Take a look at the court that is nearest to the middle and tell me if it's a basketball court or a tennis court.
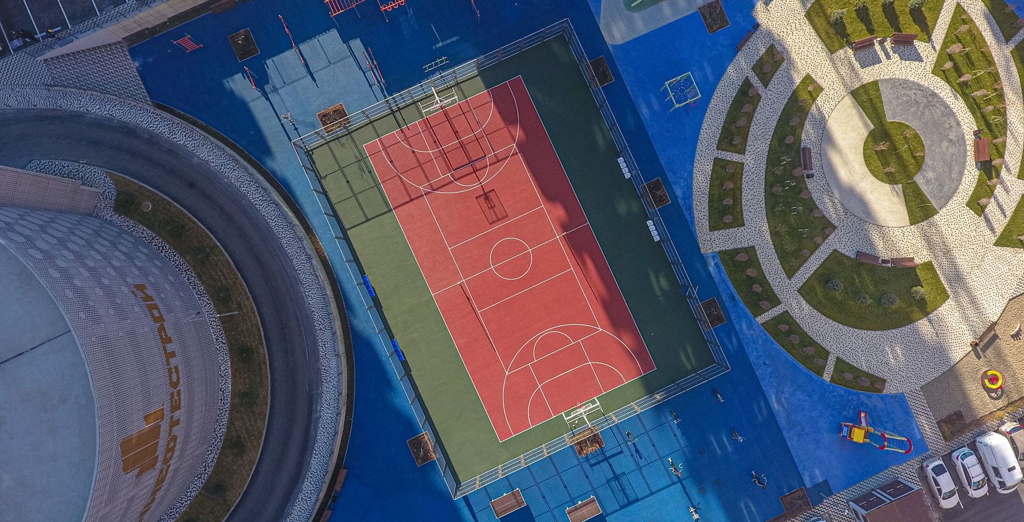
basketball court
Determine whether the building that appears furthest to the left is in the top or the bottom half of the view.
bottom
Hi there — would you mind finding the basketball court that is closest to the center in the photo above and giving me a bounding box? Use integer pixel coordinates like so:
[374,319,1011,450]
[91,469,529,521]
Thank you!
[307,33,715,482]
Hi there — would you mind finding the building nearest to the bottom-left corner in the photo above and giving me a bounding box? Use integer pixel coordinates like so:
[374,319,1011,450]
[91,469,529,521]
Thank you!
[0,173,219,522]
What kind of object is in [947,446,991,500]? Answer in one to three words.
car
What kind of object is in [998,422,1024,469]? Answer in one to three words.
car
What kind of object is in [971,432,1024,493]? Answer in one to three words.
van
